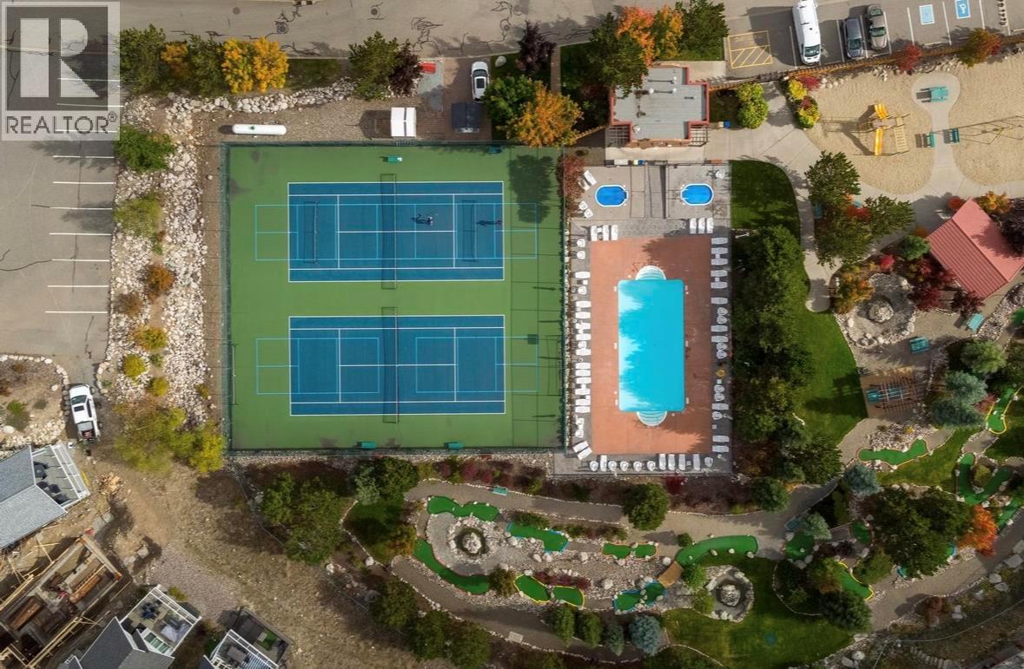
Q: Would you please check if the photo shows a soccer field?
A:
No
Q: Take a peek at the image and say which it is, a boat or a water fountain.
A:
water fountain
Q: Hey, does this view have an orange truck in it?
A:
No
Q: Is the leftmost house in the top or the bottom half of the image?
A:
bottom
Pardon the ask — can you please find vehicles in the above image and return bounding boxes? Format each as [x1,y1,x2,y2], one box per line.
[843,14,869,58]
[794,0,826,63]
[65,386,96,441]
[867,3,892,48]
[468,58,490,102]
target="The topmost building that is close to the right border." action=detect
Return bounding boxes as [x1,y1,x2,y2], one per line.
[925,198,1024,299]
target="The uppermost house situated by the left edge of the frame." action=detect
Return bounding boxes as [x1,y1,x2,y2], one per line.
[0,443,92,547]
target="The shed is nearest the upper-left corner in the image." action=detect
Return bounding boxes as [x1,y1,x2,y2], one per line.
[391,105,419,140]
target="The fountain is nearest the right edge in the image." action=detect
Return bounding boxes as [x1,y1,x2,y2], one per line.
[861,290,900,330]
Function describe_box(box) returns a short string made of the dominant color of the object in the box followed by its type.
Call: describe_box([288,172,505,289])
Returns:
blue tennis court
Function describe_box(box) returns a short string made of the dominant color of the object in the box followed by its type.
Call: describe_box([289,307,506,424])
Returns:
blue tennis court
